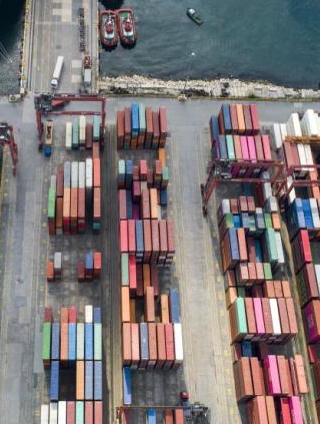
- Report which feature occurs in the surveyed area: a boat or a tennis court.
boat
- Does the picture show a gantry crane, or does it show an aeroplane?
gantry crane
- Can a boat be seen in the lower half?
No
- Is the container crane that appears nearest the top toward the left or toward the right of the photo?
left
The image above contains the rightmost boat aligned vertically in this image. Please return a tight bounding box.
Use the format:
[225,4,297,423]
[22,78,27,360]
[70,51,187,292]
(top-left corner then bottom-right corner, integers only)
[117,9,138,49]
